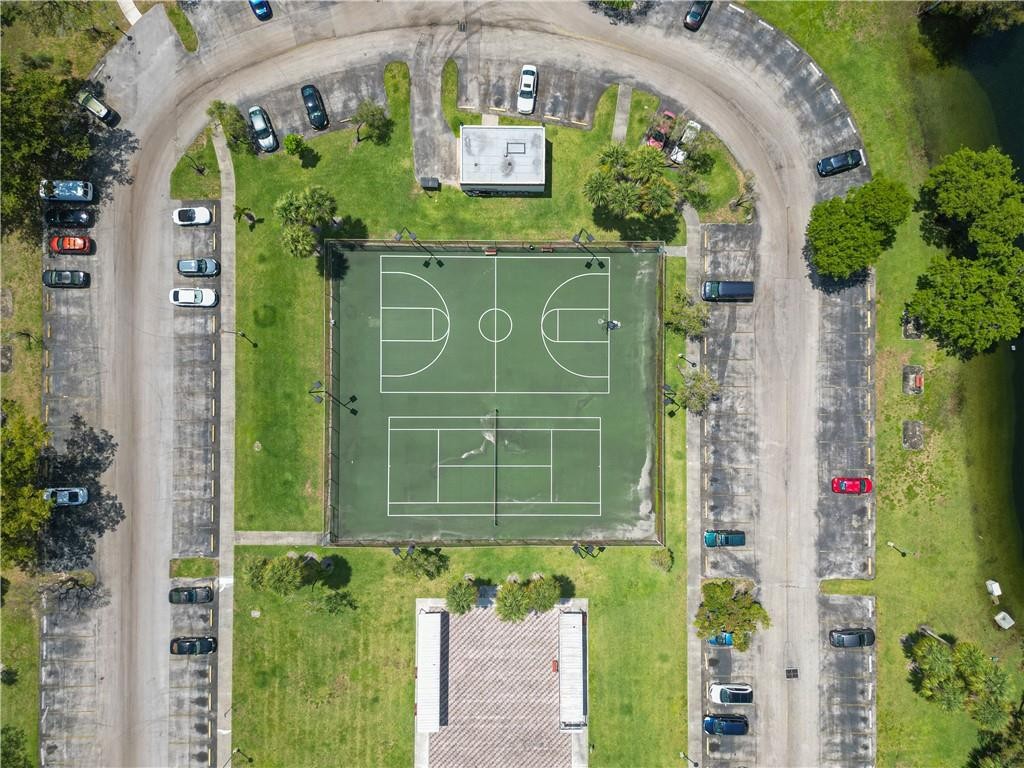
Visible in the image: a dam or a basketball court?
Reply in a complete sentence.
The image shows a basketball court.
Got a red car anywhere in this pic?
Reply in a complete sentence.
Yes, the picture does show a red car.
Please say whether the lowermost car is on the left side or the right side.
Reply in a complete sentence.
The lowermost car appears in the right half of the scene.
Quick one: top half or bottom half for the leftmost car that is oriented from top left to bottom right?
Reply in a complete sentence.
Seen from above, the leftmost car that is oriented from top left to bottom right lies in the top half of the view.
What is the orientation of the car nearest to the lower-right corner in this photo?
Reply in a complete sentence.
Seen from above, the car nearest to the lower-right corner lies from left to right.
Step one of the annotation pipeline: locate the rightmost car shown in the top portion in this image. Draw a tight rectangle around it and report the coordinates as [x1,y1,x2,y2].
[815,150,861,177]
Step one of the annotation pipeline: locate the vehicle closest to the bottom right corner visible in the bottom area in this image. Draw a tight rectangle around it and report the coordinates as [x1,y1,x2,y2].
[830,626,874,648]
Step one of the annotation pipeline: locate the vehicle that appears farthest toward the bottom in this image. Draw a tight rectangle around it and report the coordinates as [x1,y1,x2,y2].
[704,714,748,737]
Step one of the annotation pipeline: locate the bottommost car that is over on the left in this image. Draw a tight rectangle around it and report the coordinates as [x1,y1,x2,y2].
[171,635,218,658]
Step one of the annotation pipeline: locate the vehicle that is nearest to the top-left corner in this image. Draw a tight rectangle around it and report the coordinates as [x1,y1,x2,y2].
[79,90,123,129]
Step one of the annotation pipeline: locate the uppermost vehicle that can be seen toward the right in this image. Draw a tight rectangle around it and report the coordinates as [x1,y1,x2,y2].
[685,0,714,31]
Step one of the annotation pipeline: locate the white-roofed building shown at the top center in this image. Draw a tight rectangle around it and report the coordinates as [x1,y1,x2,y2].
[460,126,545,192]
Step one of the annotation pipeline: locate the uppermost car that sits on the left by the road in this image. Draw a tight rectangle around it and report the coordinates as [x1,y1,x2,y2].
[250,0,272,20]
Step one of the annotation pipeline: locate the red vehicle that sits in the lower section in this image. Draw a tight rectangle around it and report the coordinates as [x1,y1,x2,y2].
[833,476,872,496]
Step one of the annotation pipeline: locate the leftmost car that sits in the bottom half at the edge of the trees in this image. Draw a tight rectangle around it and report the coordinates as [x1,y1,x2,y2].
[46,486,88,507]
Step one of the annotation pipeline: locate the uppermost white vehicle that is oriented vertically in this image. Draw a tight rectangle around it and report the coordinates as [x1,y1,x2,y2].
[516,65,537,114]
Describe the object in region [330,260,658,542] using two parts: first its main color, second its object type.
green tennis court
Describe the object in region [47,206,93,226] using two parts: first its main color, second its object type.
black car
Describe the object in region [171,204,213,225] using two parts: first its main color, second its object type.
white car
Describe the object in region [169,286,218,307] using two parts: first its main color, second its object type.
white car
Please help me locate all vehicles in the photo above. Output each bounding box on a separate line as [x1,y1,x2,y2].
[42,179,93,202]
[178,256,221,277]
[52,234,91,254]
[833,476,872,496]
[171,204,213,225]
[46,486,88,507]
[171,635,218,658]
[47,206,93,226]
[701,279,756,302]
[169,585,215,606]
[169,286,218,307]
[702,627,742,648]
[830,626,874,648]
[248,106,278,153]
[644,108,674,148]
[516,65,537,114]
[703,529,745,549]
[79,90,123,129]
[45,268,90,289]
[709,682,753,706]
[669,120,703,165]
[301,84,330,131]
[704,714,748,737]
[250,0,272,20]
[685,0,714,31]
[815,150,861,177]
